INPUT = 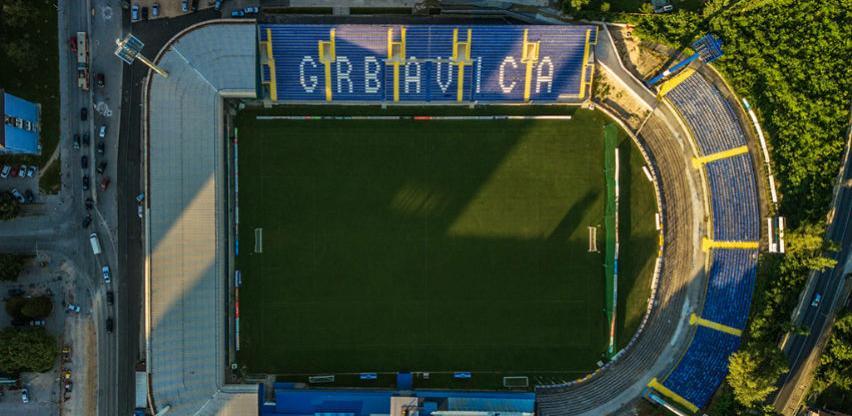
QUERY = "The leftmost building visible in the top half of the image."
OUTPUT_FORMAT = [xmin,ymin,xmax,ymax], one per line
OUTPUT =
[0,88,42,155]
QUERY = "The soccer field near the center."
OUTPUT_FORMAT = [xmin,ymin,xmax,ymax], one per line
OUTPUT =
[238,101,662,391]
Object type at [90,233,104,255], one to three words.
vehicle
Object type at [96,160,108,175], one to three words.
vehicle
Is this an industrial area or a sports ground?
sports ground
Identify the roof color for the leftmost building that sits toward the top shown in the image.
blue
